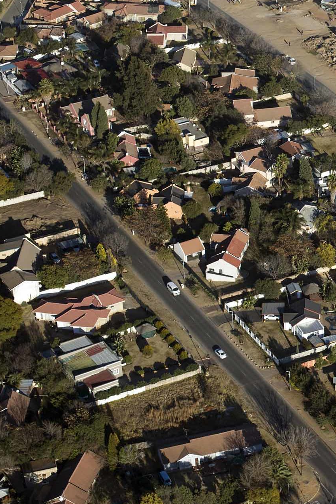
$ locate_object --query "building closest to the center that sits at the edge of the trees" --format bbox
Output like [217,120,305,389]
[174,236,207,263]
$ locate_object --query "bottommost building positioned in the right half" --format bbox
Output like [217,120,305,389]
[157,425,249,473]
